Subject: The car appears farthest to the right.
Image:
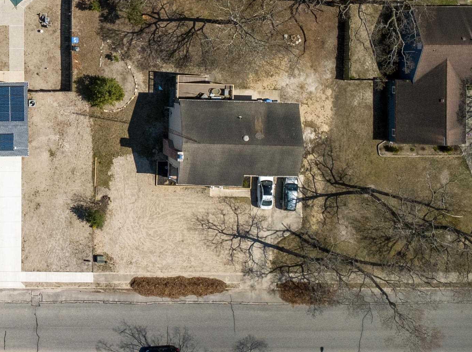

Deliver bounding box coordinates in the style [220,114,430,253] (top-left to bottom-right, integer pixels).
[282,175,302,210]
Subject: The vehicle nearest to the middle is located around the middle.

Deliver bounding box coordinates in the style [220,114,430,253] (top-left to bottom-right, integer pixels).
[257,177,278,210]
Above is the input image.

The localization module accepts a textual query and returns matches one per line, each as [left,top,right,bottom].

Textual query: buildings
[386,5,472,144]
[0,81,29,157]
[162,101,303,186]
